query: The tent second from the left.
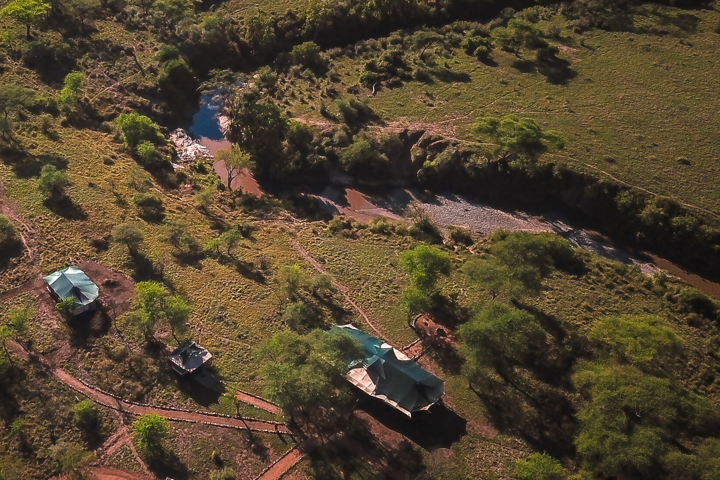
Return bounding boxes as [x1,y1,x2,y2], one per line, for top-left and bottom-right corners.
[169,347,213,387]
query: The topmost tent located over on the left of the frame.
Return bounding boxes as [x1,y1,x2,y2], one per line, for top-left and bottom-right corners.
[44,266,100,319]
